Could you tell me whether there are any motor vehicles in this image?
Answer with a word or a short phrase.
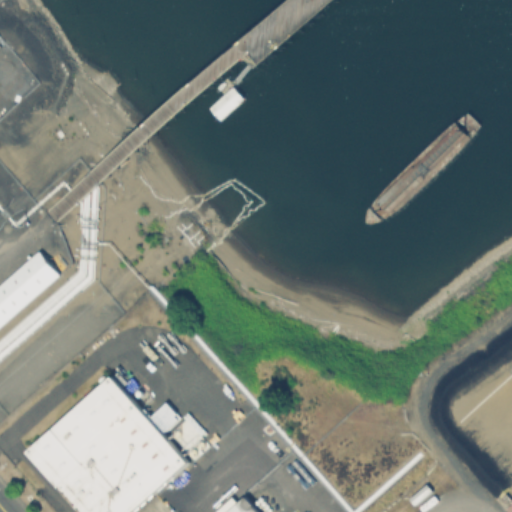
Yes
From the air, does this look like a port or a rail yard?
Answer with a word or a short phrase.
port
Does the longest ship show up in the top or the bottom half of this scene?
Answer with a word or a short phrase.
top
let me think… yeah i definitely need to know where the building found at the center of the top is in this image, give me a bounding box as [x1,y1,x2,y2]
[208,86,246,123]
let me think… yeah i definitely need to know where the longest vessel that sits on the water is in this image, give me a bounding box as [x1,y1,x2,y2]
[366,114,482,224]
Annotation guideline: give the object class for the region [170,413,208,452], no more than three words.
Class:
shed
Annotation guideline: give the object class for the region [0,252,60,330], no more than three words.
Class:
building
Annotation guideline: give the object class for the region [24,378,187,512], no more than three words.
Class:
warehouse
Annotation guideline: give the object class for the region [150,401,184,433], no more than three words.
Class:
shed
